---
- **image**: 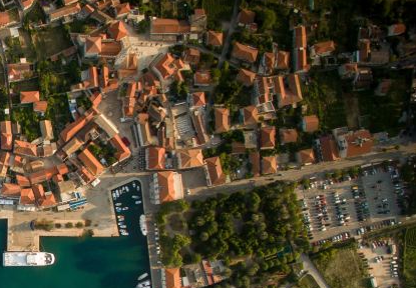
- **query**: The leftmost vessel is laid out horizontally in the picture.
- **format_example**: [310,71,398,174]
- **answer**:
[1,252,55,265]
